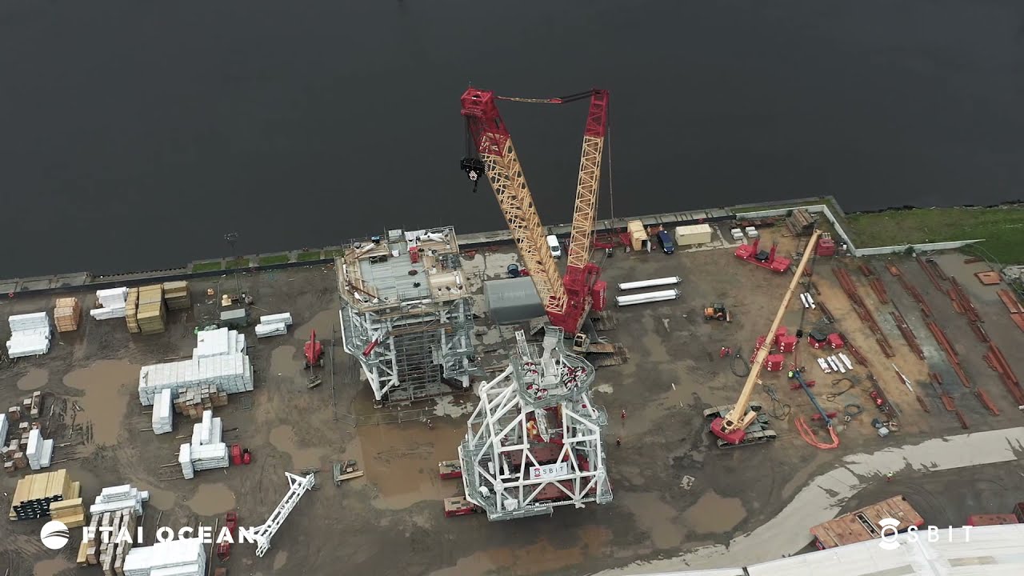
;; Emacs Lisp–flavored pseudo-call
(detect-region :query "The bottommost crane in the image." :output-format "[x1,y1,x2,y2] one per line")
[703,223,825,450]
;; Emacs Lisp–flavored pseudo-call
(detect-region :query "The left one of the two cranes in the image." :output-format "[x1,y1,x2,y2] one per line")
[461,80,624,358]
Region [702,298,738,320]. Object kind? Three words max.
work vehicle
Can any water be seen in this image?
Yes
